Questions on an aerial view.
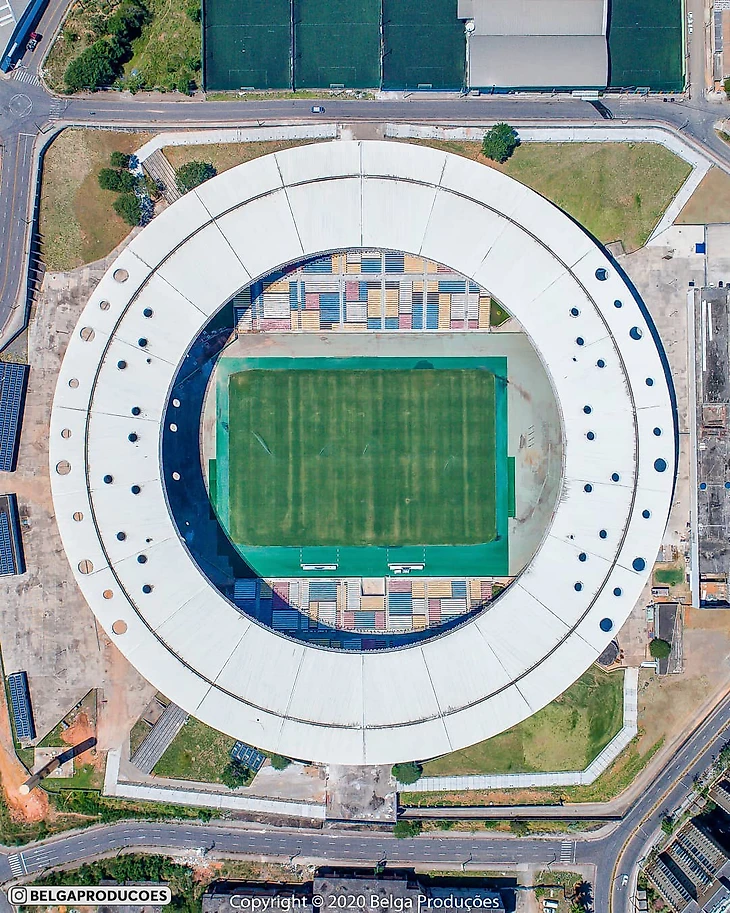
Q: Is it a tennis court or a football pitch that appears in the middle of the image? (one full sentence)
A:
What appears in the middle of the image is a football pitch.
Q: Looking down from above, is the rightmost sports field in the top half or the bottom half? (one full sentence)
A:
It is in the top half that the rightmost sports field appears.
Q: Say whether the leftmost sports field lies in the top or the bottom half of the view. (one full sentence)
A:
Seen from above, the leftmost sports field lies in the top half of the view.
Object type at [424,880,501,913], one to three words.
building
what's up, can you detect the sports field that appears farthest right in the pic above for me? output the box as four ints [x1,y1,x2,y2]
[611,0,683,90]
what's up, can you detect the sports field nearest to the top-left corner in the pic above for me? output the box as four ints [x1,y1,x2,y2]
[206,0,289,87]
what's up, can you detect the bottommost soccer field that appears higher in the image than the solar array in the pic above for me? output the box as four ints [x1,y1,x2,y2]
[209,357,516,577]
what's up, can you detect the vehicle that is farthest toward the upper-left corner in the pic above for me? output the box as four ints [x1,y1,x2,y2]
[26,32,38,48]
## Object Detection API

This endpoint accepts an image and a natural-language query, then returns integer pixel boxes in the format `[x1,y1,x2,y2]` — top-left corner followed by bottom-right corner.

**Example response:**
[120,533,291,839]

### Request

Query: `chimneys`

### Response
[21,757,64,794]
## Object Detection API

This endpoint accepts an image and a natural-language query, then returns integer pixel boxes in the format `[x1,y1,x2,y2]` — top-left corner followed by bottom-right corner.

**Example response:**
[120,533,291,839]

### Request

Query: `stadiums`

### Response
[49,141,675,765]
